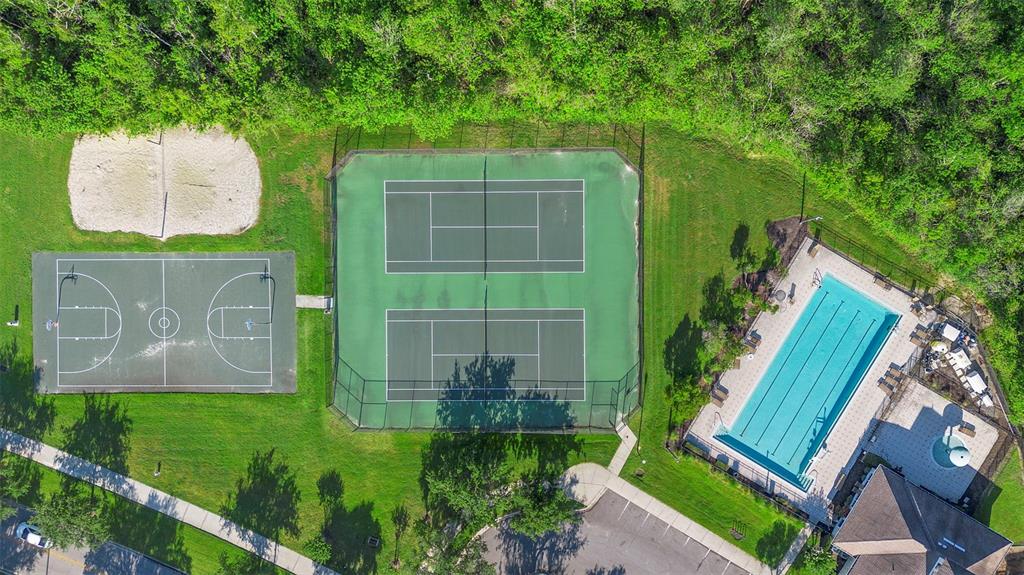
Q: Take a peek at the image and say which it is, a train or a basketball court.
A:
basketball court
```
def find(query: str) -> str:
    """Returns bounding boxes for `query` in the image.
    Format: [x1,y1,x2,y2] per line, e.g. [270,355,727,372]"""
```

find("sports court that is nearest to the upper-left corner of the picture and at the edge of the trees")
[68,123,261,240]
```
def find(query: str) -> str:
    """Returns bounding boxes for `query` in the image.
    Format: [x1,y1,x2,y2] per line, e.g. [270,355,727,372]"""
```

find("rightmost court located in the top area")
[385,180,585,273]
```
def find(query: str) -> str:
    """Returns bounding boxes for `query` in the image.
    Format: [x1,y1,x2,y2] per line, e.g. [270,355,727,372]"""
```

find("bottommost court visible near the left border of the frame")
[33,252,296,394]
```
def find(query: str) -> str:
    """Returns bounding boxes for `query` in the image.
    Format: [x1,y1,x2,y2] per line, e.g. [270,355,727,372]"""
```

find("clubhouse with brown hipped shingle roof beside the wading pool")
[828,464,1015,575]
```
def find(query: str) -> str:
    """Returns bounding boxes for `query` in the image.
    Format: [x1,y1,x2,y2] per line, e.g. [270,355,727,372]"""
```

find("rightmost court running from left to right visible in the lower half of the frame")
[386,309,585,402]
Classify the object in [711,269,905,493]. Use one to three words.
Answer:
swimming pool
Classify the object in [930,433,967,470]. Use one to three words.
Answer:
swimming pool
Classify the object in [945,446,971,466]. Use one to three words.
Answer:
fountain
